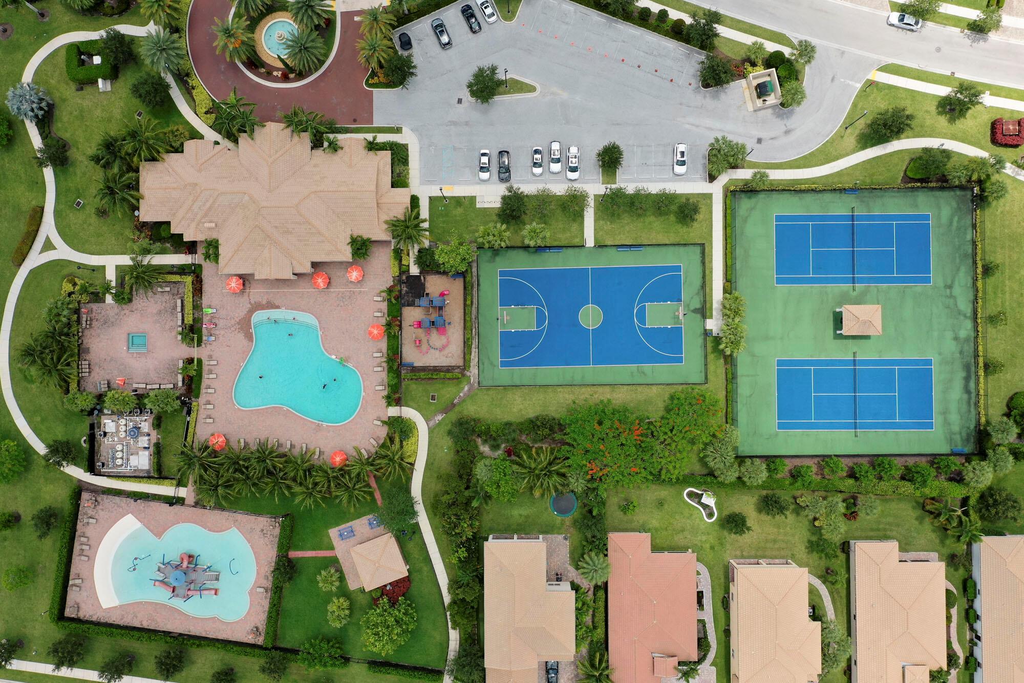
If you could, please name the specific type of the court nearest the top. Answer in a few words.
tennis court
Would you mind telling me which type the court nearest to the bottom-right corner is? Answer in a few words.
tennis court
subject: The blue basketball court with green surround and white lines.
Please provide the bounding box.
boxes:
[477,244,707,387]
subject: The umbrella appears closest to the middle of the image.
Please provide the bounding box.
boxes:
[369,324,385,340]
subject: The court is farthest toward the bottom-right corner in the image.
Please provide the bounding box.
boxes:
[776,358,935,430]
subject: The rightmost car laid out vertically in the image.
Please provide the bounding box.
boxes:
[674,141,689,174]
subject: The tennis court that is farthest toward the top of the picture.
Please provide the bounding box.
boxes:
[774,213,932,286]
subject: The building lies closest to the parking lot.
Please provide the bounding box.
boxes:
[139,119,411,281]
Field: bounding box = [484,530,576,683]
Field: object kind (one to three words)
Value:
house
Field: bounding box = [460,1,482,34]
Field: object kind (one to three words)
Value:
car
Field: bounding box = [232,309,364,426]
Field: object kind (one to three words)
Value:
swimming pool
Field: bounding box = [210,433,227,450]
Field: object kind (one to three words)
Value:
umbrella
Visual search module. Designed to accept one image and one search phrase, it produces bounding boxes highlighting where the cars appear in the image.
[530,145,544,175]
[545,660,560,683]
[476,0,497,22]
[674,141,689,174]
[430,16,452,50]
[566,145,582,179]
[460,1,482,34]
[548,139,563,173]
[497,148,512,181]
[889,12,924,30]
[476,148,491,180]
